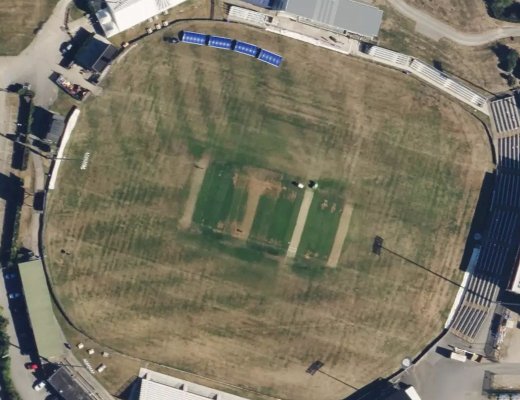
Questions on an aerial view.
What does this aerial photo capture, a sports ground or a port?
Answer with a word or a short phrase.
sports ground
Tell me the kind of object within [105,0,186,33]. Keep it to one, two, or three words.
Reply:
tent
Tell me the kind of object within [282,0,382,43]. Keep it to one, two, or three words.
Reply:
building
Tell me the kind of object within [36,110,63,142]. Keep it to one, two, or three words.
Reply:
building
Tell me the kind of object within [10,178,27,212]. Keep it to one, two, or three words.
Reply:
house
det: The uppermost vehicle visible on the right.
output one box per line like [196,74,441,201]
[447,351,470,363]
